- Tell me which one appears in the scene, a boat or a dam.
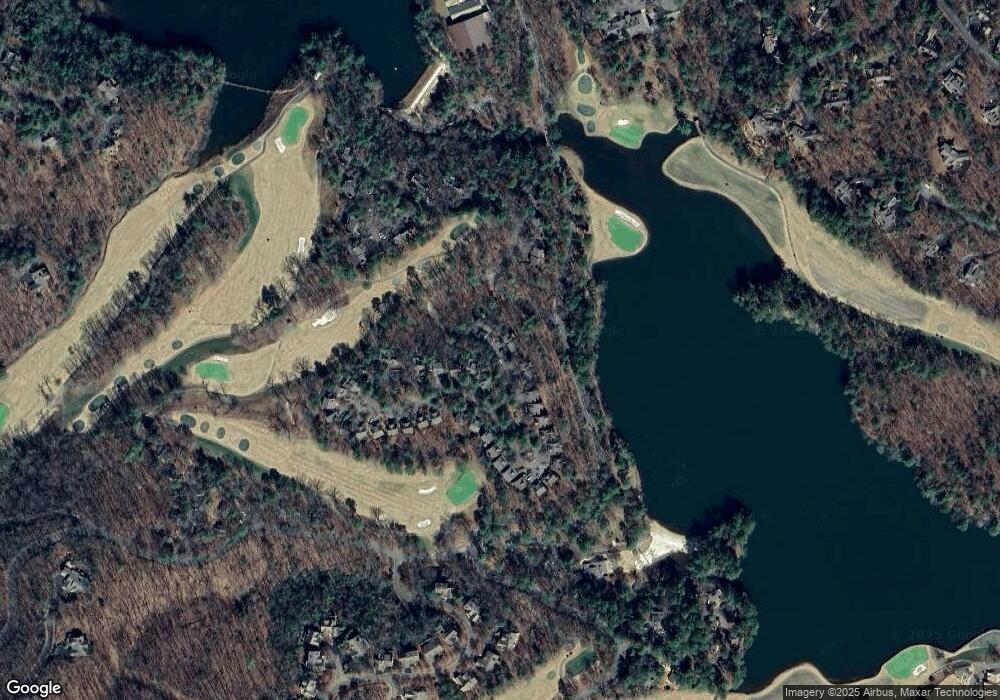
dam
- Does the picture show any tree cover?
Yes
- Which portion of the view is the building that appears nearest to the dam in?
top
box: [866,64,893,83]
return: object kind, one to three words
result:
house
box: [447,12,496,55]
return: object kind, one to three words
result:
building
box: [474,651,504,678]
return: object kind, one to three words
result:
house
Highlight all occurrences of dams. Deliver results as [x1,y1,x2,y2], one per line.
[400,59,449,113]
